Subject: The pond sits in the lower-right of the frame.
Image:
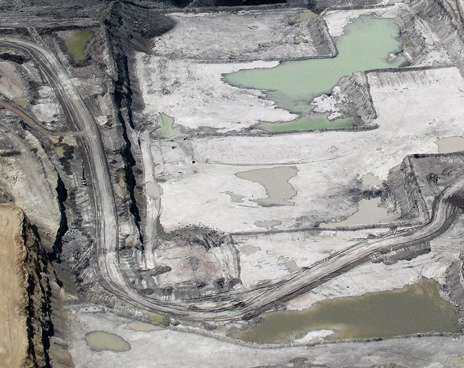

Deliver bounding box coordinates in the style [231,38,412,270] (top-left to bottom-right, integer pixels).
[242,279,460,343]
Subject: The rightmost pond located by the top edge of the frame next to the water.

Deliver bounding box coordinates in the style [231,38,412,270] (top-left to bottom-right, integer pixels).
[221,14,404,108]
